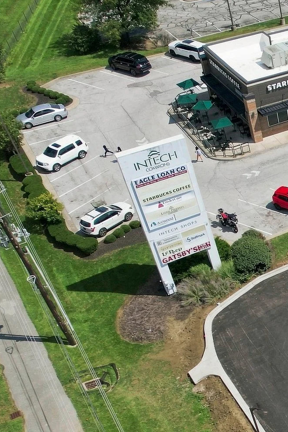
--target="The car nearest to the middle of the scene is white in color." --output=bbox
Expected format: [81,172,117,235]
[73,201,134,237]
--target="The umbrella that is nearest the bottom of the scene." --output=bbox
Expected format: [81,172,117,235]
[206,112,240,141]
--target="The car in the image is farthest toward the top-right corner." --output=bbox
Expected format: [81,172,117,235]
[169,39,207,60]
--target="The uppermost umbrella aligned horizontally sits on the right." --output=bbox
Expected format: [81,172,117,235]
[167,76,199,91]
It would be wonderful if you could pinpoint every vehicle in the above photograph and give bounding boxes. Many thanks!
[213,207,239,231]
[109,52,148,75]
[270,183,288,210]
[73,201,134,237]
[34,135,91,172]
[14,103,68,128]
[169,39,207,60]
